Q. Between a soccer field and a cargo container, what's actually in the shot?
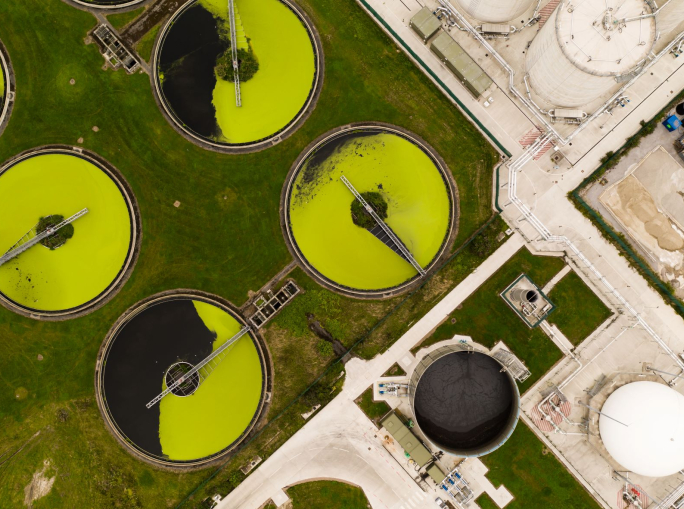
cargo container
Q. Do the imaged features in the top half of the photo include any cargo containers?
Yes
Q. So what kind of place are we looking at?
industrial area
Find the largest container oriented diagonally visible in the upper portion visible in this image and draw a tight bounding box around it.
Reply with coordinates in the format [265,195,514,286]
[428,31,494,99]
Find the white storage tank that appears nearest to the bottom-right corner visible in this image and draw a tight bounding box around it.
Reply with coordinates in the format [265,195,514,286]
[595,380,684,472]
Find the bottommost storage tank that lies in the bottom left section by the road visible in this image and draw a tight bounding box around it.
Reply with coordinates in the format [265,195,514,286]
[92,289,273,473]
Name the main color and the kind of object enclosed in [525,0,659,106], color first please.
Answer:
white storage tank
